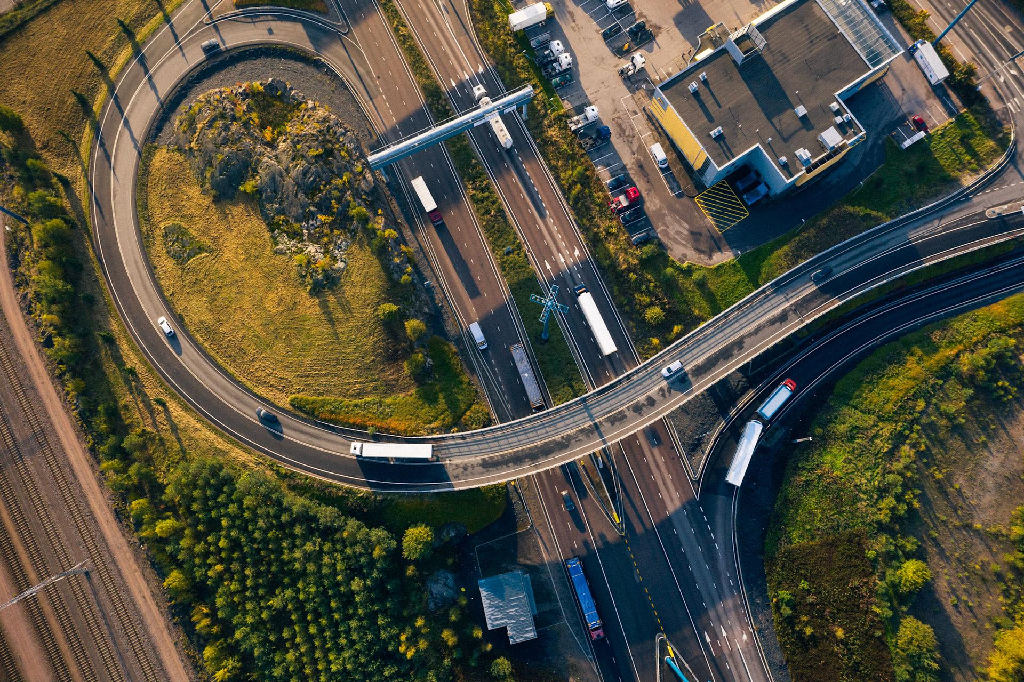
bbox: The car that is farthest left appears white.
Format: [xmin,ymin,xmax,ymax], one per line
[160,317,176,337]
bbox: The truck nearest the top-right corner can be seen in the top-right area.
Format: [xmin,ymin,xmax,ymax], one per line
[902,44,948,90]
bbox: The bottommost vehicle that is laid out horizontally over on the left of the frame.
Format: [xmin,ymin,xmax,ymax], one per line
[352,442,435,458]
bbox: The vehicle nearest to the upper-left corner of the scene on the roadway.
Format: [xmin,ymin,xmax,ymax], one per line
[201,41,222,54]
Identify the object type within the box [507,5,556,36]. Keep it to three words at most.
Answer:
truck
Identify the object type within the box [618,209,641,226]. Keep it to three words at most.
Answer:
car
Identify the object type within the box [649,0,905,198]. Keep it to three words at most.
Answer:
building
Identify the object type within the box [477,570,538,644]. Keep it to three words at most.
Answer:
building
